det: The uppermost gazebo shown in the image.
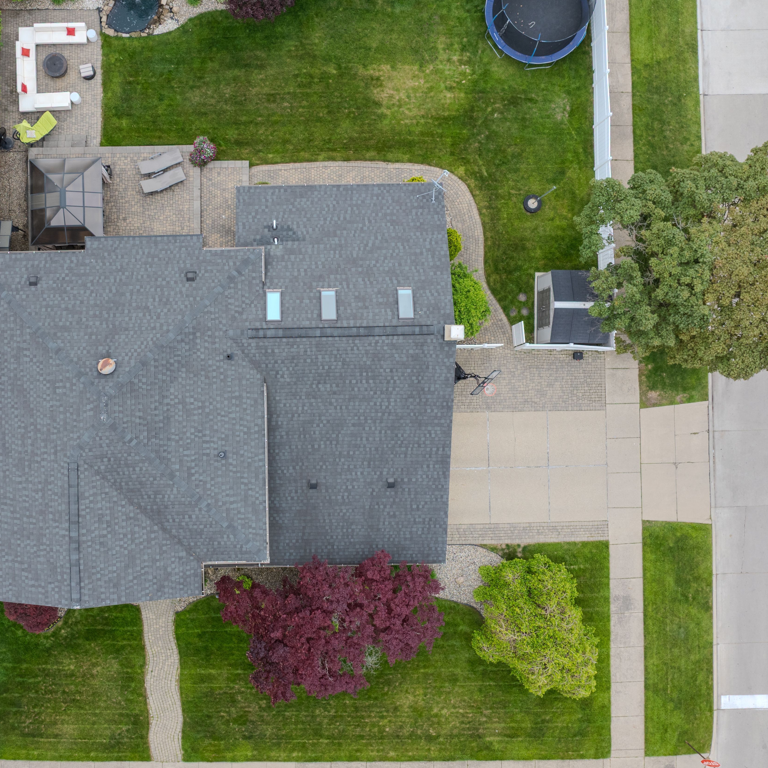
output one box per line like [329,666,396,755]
[26,156,110,248]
